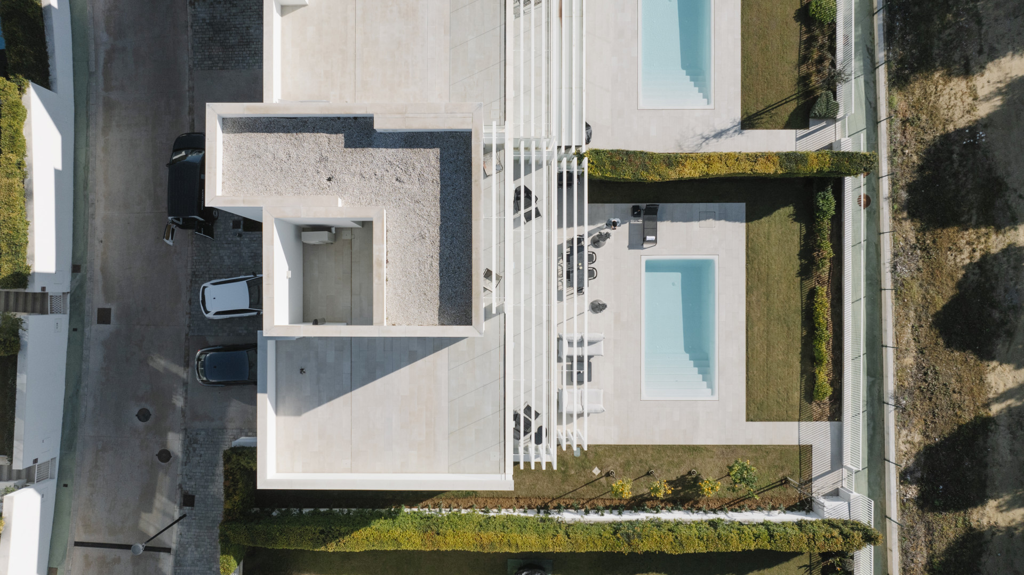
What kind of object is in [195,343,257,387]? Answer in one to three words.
car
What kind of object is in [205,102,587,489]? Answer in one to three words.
house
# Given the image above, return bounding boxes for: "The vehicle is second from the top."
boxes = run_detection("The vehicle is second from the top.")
[198,269,263,320]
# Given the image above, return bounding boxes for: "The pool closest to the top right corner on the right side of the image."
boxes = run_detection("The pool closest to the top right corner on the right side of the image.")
[638,0,714,109]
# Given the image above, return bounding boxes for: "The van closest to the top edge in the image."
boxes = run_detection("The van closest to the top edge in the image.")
[160,134,220,240]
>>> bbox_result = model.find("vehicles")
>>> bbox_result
[195,343,257,387]
[198,269,263,320]
[160,134,220,240]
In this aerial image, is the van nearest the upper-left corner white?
No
